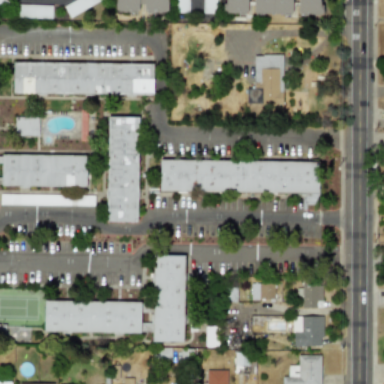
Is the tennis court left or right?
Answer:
left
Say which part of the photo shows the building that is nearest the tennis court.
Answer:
bottom left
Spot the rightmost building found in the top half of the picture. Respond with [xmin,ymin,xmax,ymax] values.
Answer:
[298,0,325,15]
